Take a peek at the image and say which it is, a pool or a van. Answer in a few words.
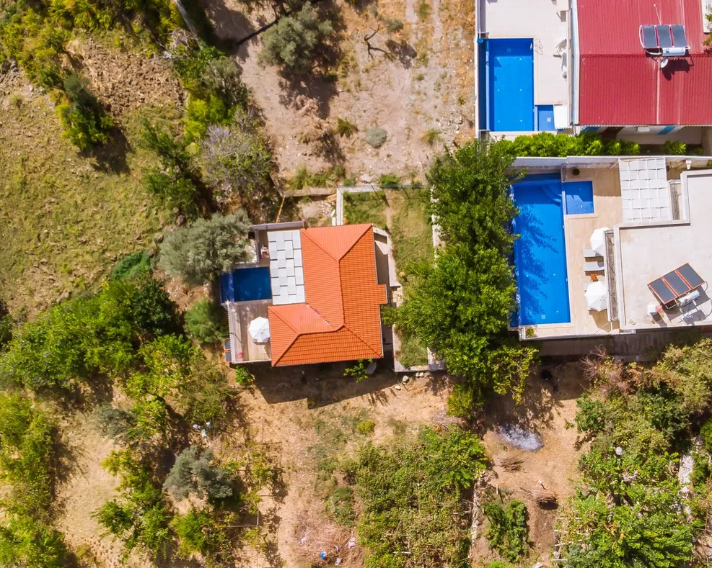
pool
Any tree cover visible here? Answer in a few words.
Yes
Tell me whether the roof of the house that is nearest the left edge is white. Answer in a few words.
No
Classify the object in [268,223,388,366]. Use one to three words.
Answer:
house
